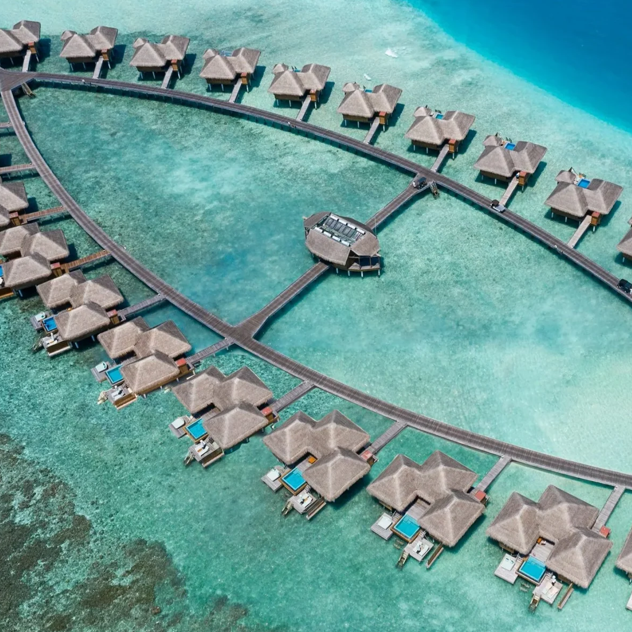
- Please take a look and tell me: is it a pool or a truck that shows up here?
pool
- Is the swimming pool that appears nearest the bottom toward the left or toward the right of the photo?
right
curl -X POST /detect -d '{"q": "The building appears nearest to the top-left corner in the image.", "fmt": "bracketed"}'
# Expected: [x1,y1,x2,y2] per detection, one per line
[0,18,41,68]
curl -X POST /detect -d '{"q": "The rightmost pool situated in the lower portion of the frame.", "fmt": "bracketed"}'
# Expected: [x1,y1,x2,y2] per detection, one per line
[516,556,549,586]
